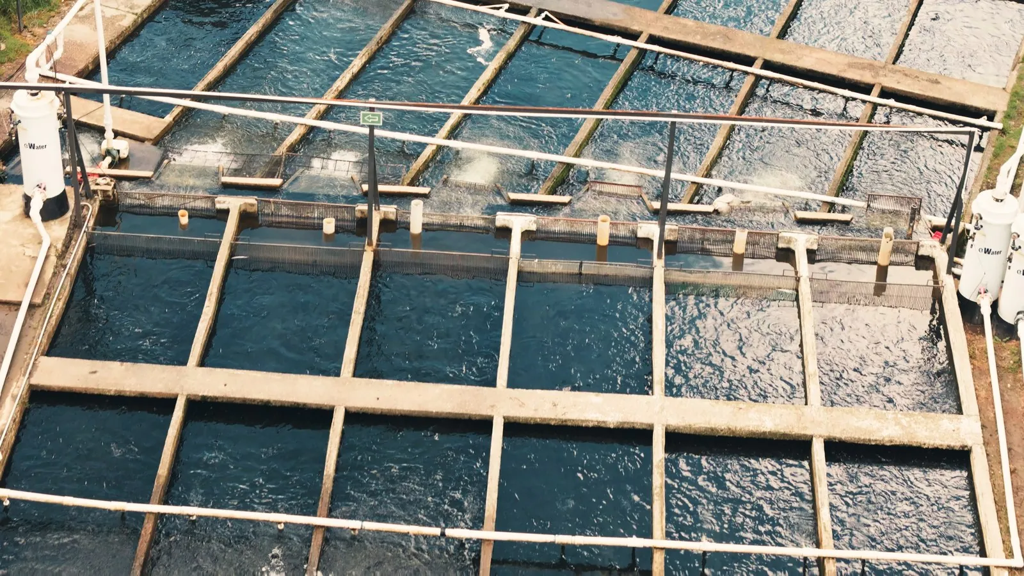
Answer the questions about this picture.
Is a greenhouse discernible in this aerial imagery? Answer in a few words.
No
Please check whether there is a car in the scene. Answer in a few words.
No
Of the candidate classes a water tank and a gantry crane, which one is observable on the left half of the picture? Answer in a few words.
water tank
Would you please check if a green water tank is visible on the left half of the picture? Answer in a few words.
No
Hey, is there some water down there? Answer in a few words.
Yes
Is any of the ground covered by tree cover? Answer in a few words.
No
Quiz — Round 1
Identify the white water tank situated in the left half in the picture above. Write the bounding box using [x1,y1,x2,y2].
[6,93,67,226]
